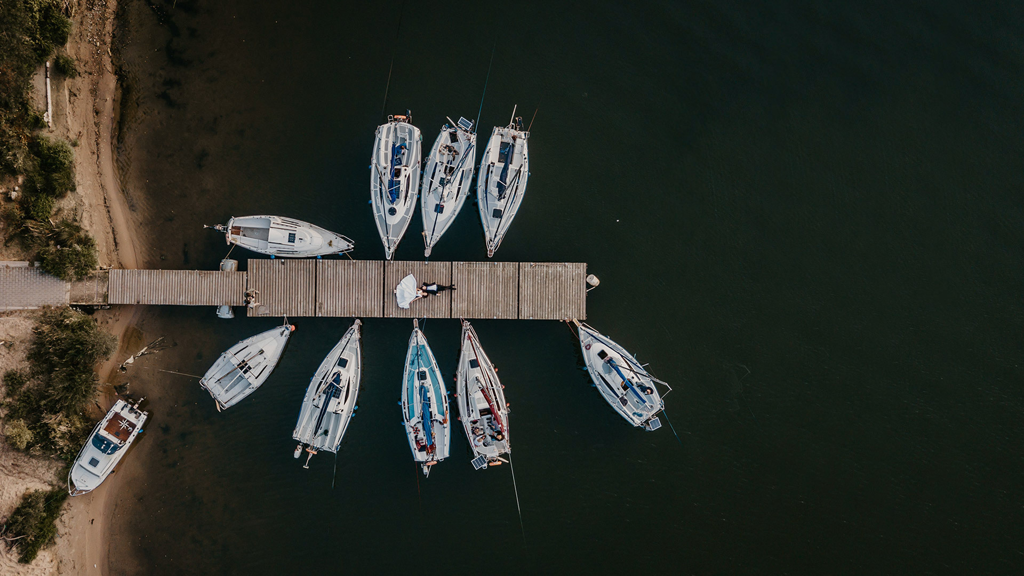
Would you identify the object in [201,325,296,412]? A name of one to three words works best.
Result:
boat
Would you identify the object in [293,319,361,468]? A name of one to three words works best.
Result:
boat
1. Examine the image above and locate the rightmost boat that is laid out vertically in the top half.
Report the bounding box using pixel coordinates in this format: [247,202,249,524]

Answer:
[474,105,532,257]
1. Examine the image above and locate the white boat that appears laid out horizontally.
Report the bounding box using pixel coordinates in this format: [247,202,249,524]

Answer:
[204,215,354,259]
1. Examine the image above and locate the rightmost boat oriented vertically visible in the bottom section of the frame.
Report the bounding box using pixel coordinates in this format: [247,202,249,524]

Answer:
[453,321,512,470]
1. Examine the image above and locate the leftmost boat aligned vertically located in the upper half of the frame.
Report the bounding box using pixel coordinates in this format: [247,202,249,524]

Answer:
[368,109,423,259]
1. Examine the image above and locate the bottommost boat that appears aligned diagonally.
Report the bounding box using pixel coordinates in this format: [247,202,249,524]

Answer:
[68,396,152,496]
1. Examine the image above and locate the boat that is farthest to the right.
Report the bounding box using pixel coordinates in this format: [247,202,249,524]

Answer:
[573,318,672,431]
